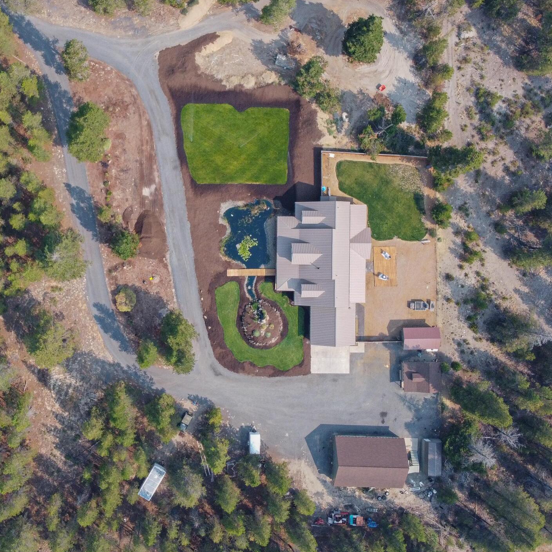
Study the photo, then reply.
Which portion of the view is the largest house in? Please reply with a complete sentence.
The largest house sits in the center section of the image.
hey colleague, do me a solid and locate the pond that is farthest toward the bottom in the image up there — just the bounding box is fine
[225,199,272,267]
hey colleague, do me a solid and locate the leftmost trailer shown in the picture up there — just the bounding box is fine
[135,457,169,504]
